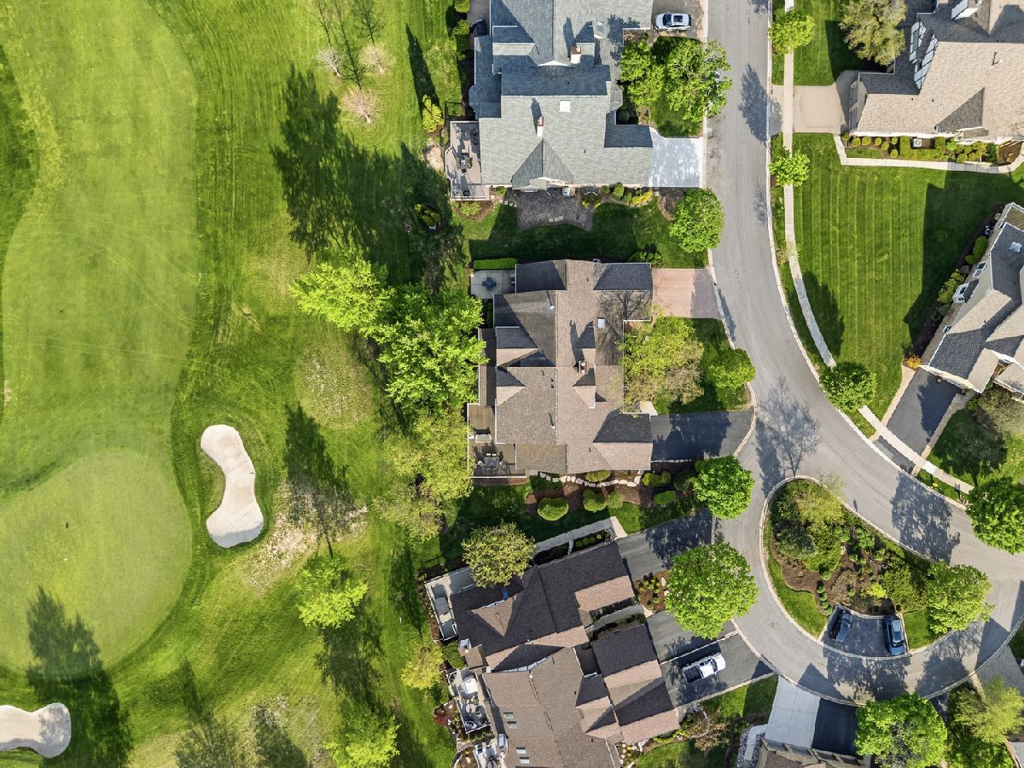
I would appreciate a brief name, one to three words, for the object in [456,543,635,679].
house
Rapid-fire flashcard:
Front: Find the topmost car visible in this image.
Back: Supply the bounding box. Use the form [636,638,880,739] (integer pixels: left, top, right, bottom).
[655,12,692,32]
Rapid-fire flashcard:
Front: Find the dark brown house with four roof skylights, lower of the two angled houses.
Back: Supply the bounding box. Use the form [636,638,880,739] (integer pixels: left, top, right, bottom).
[480,622,679,768]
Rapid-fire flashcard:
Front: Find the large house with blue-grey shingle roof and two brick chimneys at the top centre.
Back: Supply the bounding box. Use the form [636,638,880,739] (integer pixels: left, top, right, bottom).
[468,0,653,193]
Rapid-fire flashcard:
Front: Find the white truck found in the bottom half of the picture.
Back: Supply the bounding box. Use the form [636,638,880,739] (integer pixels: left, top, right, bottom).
[681,654,728,683]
